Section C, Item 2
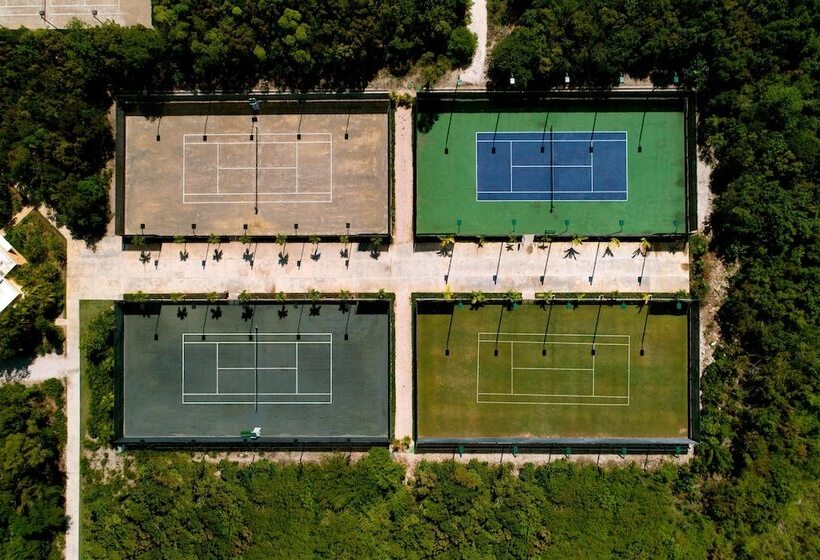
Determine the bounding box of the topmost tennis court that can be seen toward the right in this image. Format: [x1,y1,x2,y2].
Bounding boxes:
[416,99,687,234]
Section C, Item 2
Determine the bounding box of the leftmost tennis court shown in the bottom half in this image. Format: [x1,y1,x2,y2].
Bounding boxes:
[123,301,388,437]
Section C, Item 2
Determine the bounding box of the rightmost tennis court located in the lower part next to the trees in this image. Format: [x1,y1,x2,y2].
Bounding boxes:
[418,300,690,437]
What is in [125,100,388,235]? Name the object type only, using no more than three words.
tennis court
